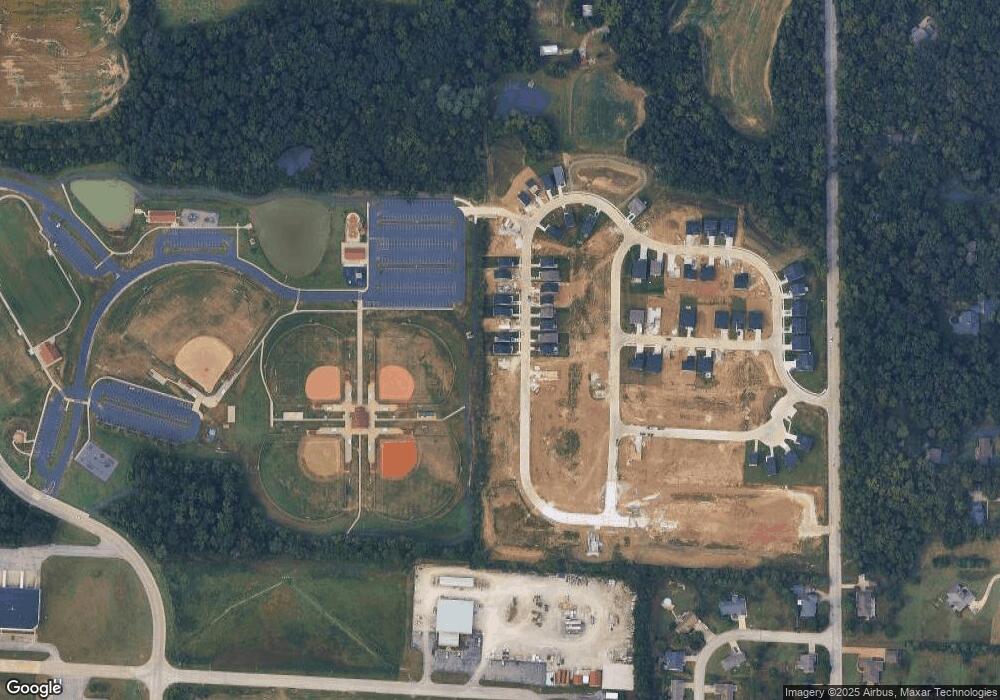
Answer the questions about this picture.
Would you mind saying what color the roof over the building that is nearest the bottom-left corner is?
blue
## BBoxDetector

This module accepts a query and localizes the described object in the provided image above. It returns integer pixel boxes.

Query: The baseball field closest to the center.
[371,316,462,409]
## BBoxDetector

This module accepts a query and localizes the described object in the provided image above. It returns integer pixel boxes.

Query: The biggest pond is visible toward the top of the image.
[250,198,331,277]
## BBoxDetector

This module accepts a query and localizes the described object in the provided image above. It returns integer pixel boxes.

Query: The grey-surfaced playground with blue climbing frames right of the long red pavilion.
[180,209,218,226]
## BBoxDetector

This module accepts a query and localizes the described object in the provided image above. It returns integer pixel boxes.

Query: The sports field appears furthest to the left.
[0,200,76,344]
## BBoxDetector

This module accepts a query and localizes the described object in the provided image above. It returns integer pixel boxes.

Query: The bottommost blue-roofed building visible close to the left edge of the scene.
[0,570,39,638]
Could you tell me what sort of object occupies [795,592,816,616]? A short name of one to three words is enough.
house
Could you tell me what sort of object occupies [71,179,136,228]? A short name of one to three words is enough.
pond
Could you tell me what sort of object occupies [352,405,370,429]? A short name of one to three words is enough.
building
